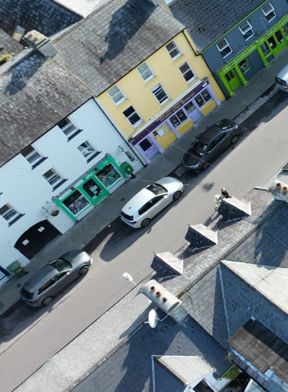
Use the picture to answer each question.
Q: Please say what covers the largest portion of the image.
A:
buildings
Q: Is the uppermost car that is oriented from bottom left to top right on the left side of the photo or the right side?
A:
right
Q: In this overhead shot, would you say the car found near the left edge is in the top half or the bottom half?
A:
bottom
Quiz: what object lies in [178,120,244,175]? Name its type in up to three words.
car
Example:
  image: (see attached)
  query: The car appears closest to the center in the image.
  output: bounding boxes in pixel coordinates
[116,180,185,234]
